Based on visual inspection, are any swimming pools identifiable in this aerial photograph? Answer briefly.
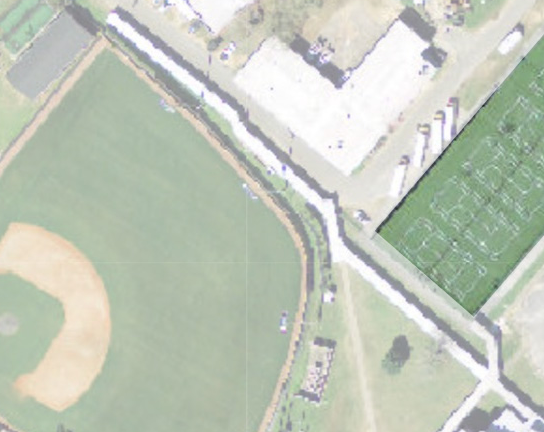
No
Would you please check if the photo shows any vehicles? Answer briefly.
Yes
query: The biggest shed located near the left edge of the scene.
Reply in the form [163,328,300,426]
[6,9,102,97]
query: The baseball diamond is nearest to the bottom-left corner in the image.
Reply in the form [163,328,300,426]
[0,40,310,432]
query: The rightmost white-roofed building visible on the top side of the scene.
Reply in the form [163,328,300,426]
[233,19,440,174]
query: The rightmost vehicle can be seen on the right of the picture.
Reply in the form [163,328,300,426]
[494,26,524,54]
